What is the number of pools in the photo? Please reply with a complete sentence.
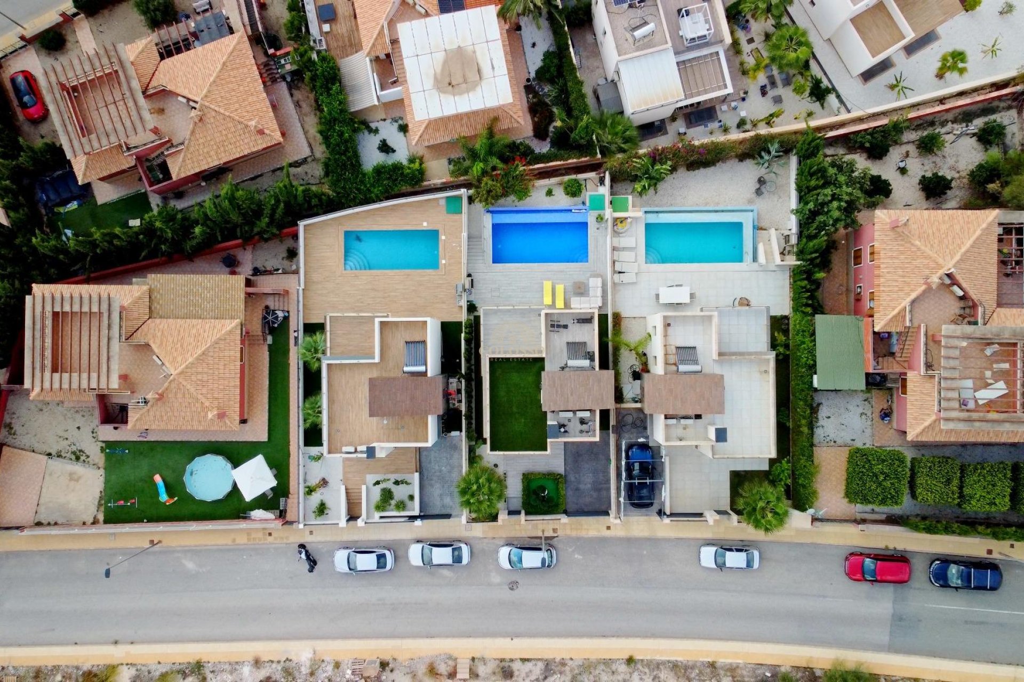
I count 4 pools.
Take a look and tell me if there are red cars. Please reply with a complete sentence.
Yes, the image includes a red car.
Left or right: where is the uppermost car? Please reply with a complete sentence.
The uppermost car sits on the left side.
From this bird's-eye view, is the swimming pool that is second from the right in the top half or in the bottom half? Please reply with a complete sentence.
It is in the top half that the swimming pool that is second from the right appears.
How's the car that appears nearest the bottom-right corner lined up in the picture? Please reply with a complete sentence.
I'd say the car that appears nearest the bottom-right corner is aligned from side to side in the picture.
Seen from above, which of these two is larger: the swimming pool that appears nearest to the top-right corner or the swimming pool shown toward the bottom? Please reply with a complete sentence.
It is the swimming pool that appears nearest to the top-right corner that is larger, not the swimming pool shown toward the bottom.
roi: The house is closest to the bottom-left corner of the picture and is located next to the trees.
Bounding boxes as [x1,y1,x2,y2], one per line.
[25,274,247,431]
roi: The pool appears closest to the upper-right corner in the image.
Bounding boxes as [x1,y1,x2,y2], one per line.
[644,206,759,267]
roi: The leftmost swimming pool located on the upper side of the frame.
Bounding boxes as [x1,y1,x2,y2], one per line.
[338,222,445,275]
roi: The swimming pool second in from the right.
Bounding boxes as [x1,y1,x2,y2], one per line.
[483,206,590,265]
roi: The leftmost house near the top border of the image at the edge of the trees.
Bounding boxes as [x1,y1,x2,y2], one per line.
[43,1,283,197]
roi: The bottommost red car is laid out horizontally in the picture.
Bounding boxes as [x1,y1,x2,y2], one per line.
[841,552,911,584]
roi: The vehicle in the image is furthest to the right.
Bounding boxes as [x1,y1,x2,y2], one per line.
[926,557,1001,591]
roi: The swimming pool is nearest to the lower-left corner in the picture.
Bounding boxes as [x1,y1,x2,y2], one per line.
[183,451,238,503]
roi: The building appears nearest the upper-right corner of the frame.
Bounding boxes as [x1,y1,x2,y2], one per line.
[791,0,915,83]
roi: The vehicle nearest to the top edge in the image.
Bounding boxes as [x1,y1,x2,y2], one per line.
[9,68,53,125]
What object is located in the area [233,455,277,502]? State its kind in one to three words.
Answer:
umbrella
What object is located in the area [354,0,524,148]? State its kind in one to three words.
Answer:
house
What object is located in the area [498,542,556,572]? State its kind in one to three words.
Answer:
car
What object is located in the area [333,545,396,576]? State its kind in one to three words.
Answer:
car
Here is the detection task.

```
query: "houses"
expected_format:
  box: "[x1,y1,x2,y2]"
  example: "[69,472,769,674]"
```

[846,208,1024,443]
[595,0,734,131]
[637,306,776,458]
[354,0,524,148]
[791,0,915,83]
[43,1,283,197]
[321,313,448,472]
[25,274,247,431]
[473,307,615,454]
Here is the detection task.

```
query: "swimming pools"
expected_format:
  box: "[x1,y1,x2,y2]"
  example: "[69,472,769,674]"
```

[483,206,590,265]
[183,451,238,503]
[338,222,445,275]
[644,206,759,267]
